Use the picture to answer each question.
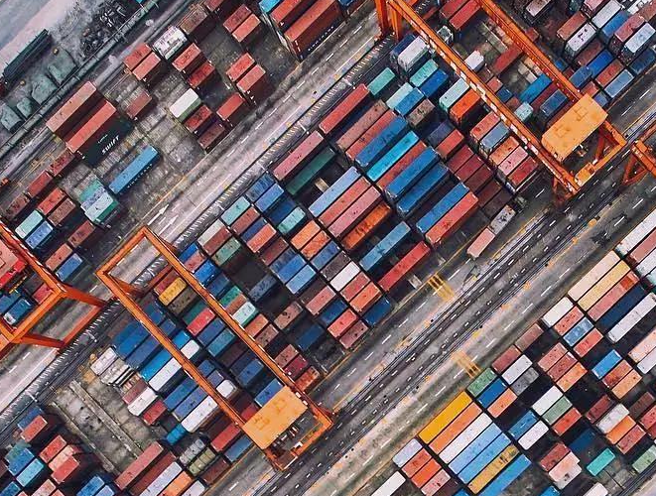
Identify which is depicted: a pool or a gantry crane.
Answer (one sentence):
This aerial view contains a gantry crane.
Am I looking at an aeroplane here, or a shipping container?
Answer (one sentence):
There is a shipping container in the scene.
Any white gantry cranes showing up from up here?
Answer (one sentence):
No, there appears to be no white gantry crane in this shot.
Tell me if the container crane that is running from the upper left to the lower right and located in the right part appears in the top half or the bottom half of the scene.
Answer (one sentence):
You can find the container crane that is running from the upper left to the lower right and located in the right part in the top half.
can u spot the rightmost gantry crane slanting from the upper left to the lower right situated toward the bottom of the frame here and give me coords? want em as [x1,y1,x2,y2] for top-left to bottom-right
[93,225,341,474]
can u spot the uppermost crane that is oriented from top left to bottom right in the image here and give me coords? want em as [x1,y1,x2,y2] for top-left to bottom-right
[385,0,628,217]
